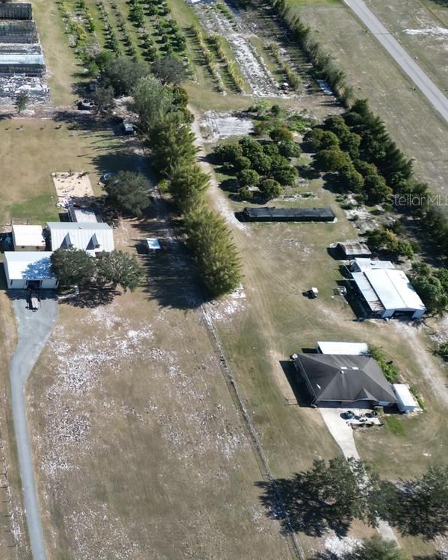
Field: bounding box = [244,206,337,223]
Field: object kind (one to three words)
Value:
house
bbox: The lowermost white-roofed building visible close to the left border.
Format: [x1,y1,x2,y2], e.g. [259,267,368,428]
[4,251,60,289]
